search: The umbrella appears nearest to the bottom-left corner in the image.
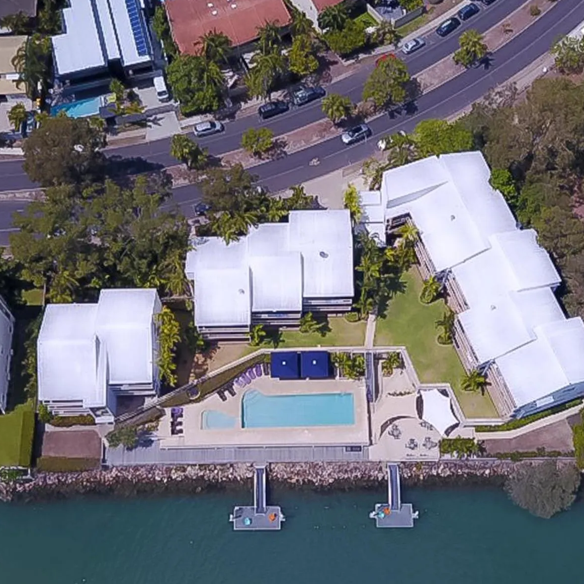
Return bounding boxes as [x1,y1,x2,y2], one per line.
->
[269,352,299,380]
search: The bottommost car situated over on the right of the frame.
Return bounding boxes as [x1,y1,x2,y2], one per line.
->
[343,127,371,145]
